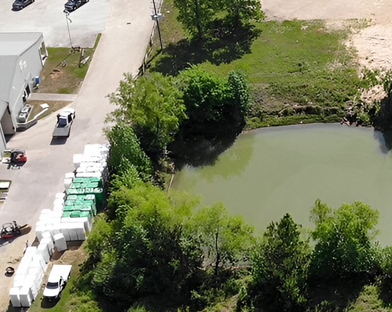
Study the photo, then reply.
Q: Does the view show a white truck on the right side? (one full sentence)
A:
No, I see no white truck on the right side.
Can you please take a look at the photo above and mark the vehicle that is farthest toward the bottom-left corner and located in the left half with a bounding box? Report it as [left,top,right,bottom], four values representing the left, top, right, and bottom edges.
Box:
[43,256,72,293]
